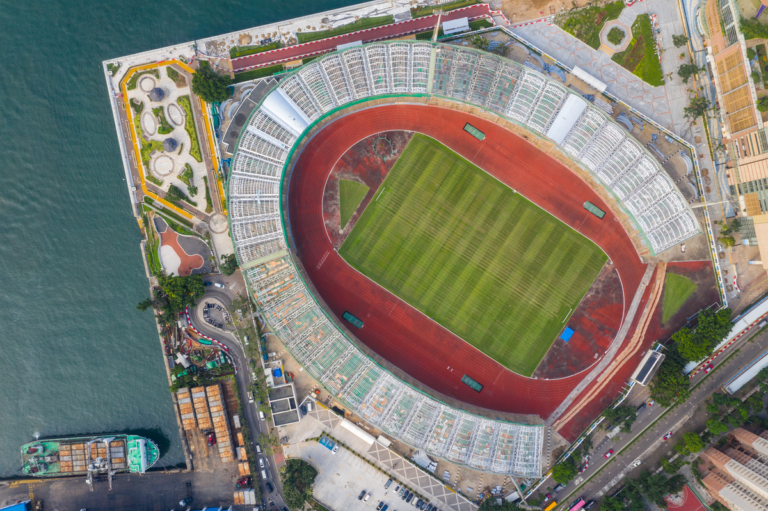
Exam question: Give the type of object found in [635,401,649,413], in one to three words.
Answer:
vehicle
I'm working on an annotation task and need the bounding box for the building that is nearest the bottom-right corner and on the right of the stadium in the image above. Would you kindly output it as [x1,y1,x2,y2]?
[701,410,768,511]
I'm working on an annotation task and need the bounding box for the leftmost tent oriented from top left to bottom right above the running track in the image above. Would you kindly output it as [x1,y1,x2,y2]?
[569,65,607,95]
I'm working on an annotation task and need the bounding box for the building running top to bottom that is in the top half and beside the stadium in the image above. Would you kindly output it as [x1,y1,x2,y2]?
[698,0,768,277]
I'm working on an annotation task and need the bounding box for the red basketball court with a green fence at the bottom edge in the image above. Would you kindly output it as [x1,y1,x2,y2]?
[663,482,712,511]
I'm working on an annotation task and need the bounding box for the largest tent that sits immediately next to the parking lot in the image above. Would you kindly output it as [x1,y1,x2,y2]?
[340,416,375,444]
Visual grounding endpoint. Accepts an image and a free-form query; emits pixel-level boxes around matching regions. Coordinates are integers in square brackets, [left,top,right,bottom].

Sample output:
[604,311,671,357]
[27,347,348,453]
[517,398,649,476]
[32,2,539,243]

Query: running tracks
[287,104,724,443]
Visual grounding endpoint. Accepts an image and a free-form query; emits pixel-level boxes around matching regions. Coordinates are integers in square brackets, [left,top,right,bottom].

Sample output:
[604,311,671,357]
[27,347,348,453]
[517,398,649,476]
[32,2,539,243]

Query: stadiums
[226,40,703,479]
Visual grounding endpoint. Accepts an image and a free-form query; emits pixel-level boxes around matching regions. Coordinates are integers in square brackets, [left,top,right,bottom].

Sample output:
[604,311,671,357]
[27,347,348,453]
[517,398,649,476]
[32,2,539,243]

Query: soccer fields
[339,135,610,375]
